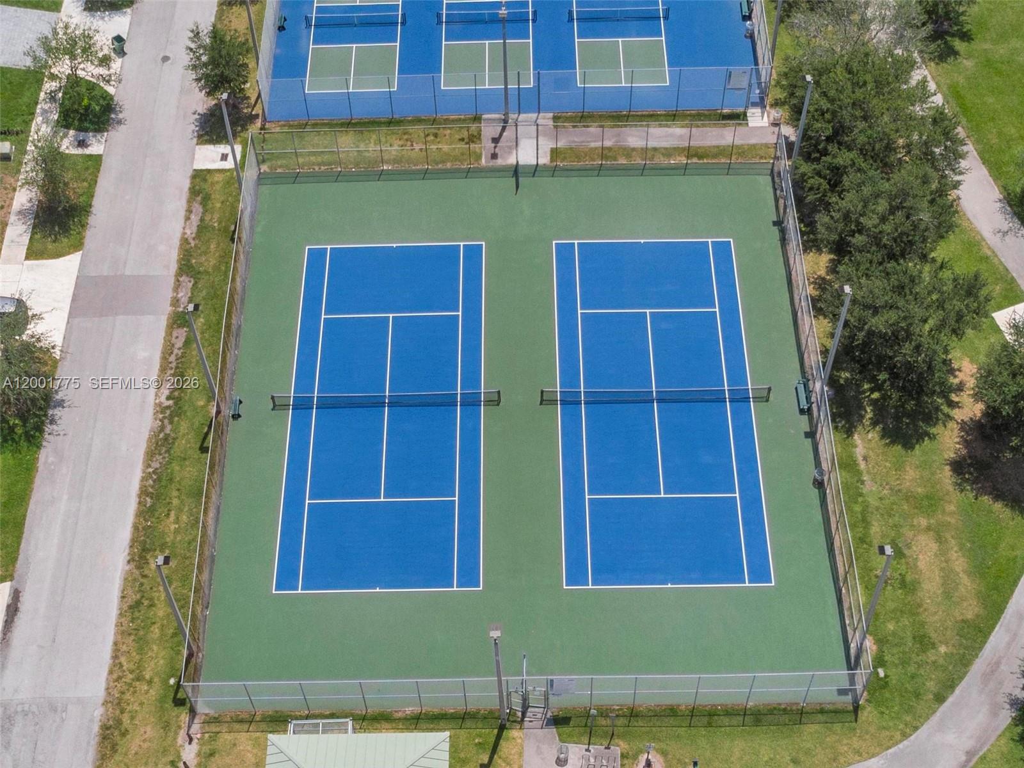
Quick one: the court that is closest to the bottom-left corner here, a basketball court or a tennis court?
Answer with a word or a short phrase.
tennis court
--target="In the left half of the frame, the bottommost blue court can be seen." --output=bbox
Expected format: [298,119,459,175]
[272,242,486,593]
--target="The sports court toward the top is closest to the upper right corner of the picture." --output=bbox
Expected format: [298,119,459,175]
[574,0,668,86]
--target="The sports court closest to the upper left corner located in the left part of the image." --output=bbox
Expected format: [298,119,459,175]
[306,0,401,91]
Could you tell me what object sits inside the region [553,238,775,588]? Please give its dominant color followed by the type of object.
blue tennis court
